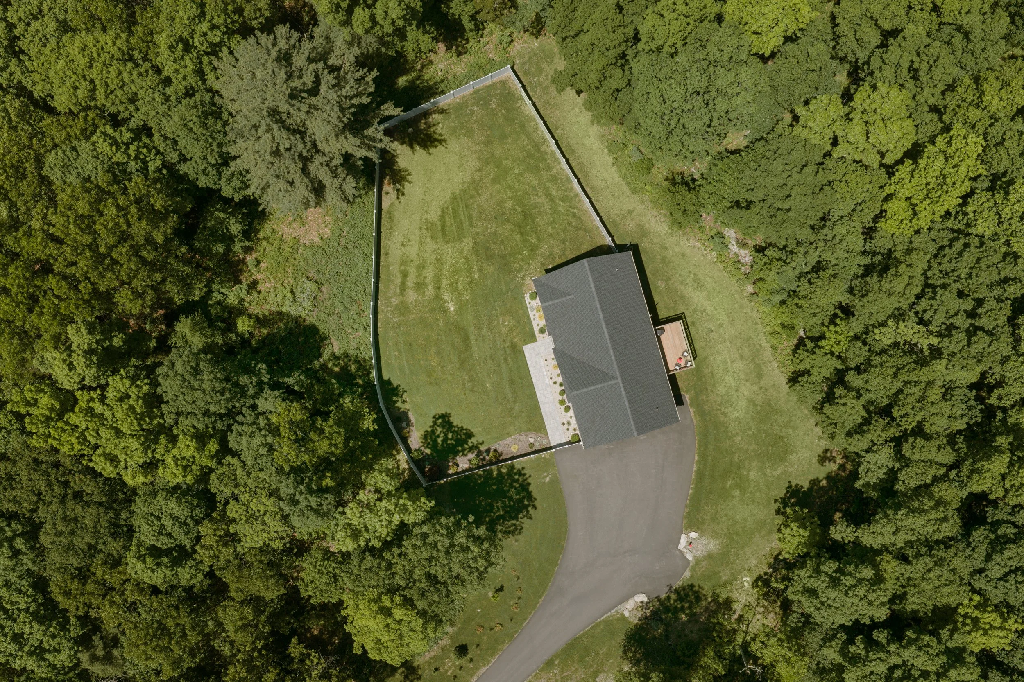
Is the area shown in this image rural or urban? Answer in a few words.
rural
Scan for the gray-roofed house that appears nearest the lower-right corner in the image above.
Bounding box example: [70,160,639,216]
[531,251,684,450]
